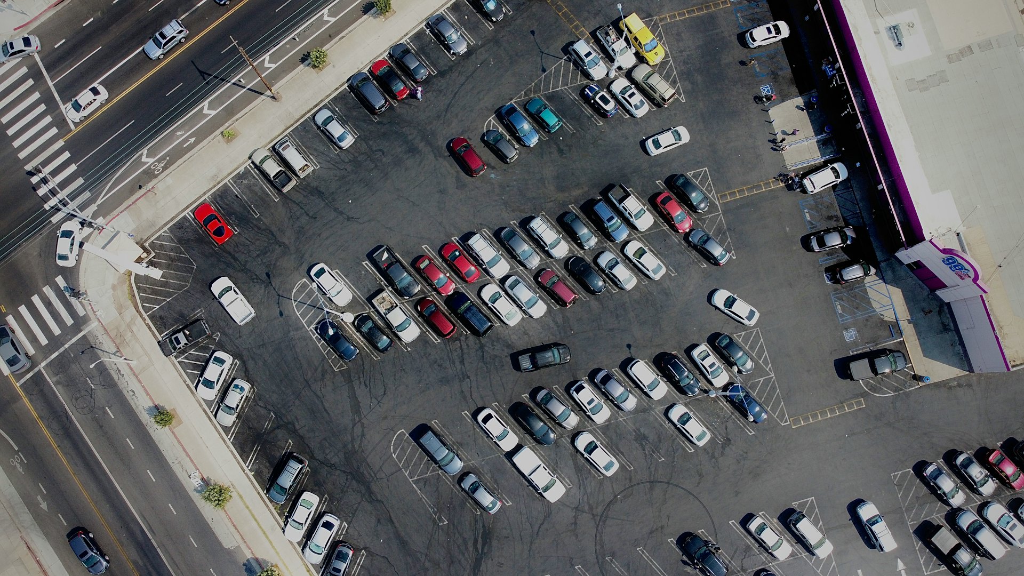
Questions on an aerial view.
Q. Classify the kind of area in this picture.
parking lot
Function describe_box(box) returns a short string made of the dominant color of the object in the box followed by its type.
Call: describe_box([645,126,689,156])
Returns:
white car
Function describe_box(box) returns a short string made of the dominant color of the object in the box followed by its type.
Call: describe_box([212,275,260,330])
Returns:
white truck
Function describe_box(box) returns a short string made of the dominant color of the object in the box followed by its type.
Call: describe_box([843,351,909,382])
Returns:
gray truck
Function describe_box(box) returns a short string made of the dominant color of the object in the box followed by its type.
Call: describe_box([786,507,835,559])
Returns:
white car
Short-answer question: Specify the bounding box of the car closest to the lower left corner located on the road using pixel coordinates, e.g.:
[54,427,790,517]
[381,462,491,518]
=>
[69,527,108,574]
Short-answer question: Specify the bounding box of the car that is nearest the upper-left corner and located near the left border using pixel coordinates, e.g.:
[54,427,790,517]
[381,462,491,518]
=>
[0,35,42,65]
